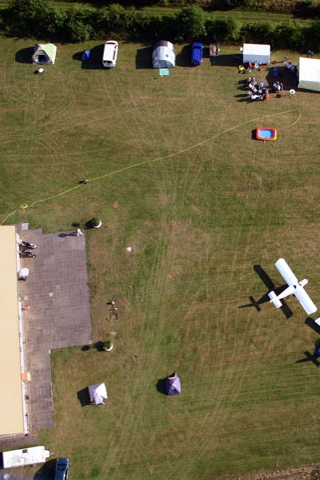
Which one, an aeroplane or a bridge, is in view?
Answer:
aeroplane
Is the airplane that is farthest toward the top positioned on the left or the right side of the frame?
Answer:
right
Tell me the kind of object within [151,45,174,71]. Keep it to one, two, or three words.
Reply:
tent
